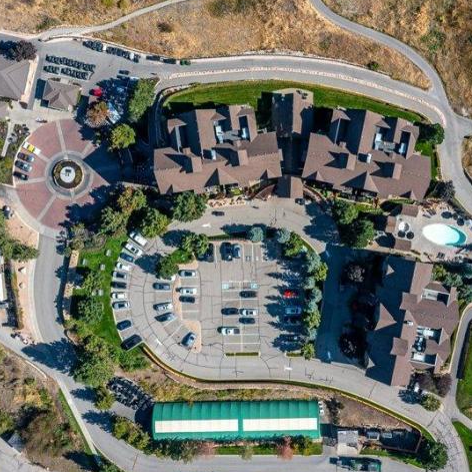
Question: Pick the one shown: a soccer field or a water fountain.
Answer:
water fountain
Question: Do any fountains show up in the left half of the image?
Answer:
Yes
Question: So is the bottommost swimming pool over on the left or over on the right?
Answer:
right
